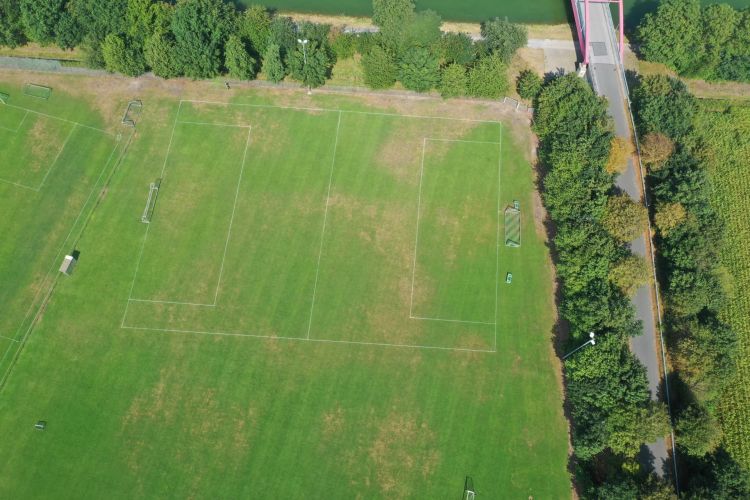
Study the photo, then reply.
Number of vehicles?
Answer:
zero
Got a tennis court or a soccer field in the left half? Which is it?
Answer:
soccer field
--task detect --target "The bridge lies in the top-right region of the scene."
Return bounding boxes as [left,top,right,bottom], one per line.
[571,0,626,96]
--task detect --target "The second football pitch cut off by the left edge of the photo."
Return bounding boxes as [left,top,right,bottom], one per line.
[0,106,118,367]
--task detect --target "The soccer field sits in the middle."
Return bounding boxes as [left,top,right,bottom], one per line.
[122,100,501,351]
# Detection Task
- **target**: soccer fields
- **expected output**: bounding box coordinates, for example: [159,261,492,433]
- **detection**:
[122,100,501,351]
[0,106,118,367]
